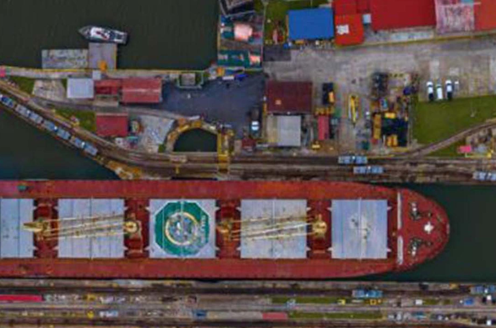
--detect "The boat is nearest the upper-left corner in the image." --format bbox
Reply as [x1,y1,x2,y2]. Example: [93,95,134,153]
[79,26,127,43]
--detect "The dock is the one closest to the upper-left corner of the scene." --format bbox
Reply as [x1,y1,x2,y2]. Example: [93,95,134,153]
[42,48,88,69]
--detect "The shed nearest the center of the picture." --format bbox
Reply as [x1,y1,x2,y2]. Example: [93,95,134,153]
[278,115,301,145]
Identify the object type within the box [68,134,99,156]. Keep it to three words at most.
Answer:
rail car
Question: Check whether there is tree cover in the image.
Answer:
No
